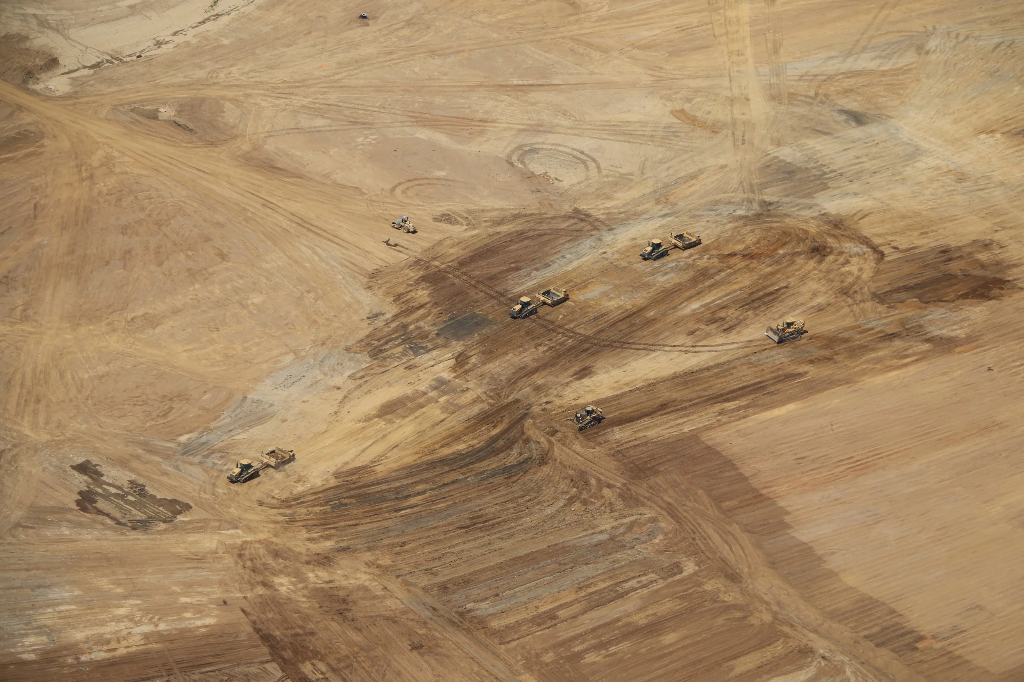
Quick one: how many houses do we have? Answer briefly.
none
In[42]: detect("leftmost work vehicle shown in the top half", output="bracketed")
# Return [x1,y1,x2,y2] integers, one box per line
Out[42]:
[391,215,415,233]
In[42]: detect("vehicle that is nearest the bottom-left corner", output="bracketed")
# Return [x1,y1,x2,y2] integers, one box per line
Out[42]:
[228,458,260,483]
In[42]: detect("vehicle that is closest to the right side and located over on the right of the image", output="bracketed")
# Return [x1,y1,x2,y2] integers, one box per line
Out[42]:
[765,318,804,345]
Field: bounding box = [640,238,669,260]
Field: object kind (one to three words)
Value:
work vehicle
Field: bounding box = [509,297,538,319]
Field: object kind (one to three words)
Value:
work vehicle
